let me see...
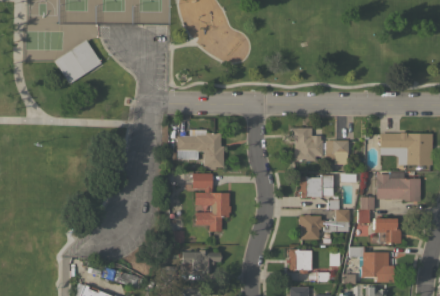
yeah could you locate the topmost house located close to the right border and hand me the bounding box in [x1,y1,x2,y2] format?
[381,134,434,166]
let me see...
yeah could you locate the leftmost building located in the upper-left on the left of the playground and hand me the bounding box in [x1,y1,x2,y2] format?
[56,40,101,82]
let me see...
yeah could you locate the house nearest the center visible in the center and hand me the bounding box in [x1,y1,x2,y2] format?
[178,132,224,170]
